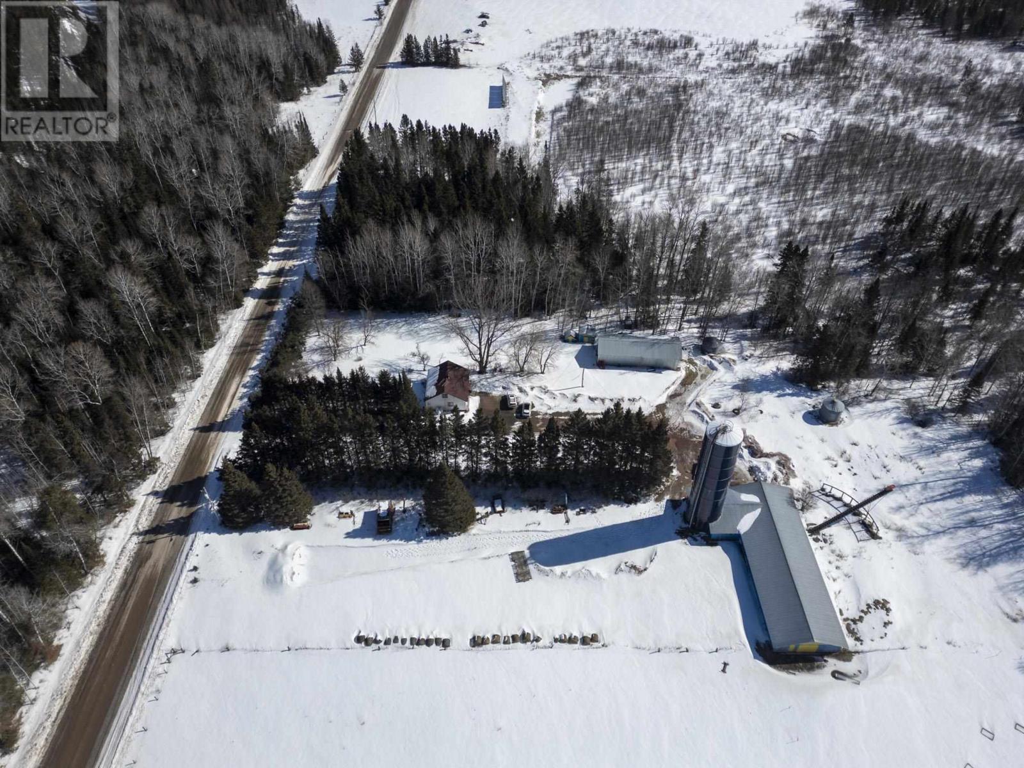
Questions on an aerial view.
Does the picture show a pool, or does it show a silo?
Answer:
silo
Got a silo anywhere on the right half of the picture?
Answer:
Yes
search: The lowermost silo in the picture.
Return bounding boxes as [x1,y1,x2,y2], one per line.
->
[682,421,737,537]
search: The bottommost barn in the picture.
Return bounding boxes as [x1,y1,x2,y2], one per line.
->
[710,482,852,662]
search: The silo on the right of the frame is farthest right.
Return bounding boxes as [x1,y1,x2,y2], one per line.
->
[820,399,848,424]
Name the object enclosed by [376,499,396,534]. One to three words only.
work vehicle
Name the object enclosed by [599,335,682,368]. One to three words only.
shed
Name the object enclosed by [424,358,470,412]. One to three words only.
house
